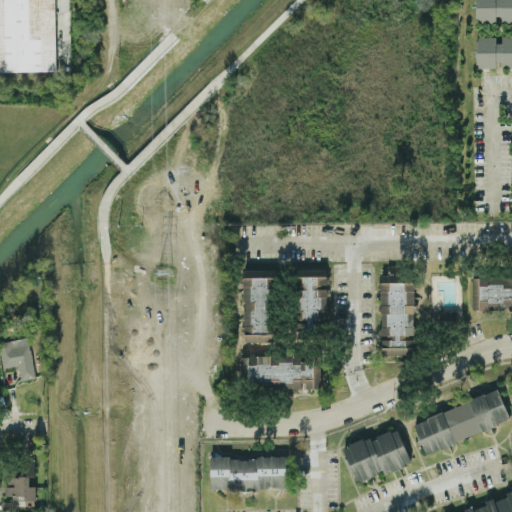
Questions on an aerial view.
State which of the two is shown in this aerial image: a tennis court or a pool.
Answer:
pool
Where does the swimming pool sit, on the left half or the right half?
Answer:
right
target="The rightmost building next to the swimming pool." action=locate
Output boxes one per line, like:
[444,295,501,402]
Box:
[474,278,512,311]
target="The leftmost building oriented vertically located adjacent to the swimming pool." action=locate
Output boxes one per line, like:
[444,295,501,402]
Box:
[380,276,416,358]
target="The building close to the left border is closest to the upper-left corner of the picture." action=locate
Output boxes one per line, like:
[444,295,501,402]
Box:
[0,0,56,72]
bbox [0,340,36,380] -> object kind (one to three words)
house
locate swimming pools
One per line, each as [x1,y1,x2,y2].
[432,275,462,311]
